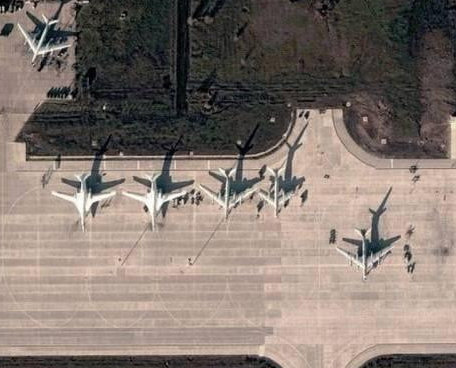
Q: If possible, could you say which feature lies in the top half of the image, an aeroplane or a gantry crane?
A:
aeroplane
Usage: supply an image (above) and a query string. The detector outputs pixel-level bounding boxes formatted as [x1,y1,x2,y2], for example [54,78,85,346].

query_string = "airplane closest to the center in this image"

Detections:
[198,165,256,220]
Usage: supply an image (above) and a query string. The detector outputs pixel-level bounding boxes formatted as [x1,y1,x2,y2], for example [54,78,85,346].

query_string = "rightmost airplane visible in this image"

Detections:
[335,227,392,281]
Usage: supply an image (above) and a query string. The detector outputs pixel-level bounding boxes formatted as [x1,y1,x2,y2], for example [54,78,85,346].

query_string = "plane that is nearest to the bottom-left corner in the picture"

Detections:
[51,172,114,233]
